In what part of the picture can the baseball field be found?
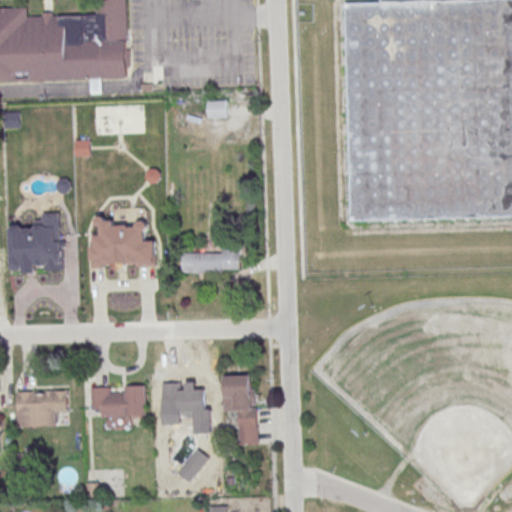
bottom right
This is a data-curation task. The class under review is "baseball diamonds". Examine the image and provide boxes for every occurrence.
[314,297,512,511]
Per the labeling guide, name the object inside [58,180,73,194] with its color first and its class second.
gray gazebo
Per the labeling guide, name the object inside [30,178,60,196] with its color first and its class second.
blue swimming pool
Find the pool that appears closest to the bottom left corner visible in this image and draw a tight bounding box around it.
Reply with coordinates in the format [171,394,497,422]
[58,465,80,495]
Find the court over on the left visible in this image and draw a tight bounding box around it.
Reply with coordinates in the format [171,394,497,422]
[96,105,146,136]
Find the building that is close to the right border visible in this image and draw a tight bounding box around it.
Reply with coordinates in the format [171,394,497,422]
[346,0,512,218]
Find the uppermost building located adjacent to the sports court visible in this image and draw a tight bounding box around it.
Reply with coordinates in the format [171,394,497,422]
[0,0,131,96]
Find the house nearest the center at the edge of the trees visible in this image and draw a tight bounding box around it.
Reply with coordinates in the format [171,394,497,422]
[182,250,242,272]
